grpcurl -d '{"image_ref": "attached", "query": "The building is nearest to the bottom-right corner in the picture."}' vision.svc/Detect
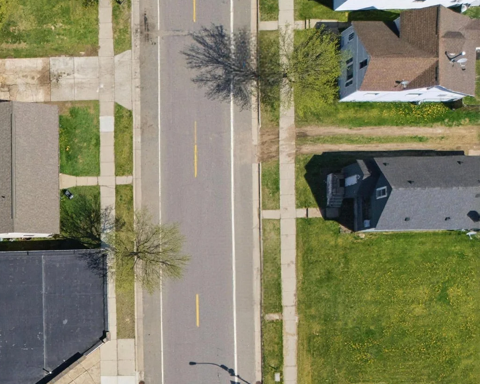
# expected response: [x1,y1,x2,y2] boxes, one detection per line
[329,156,480,232]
